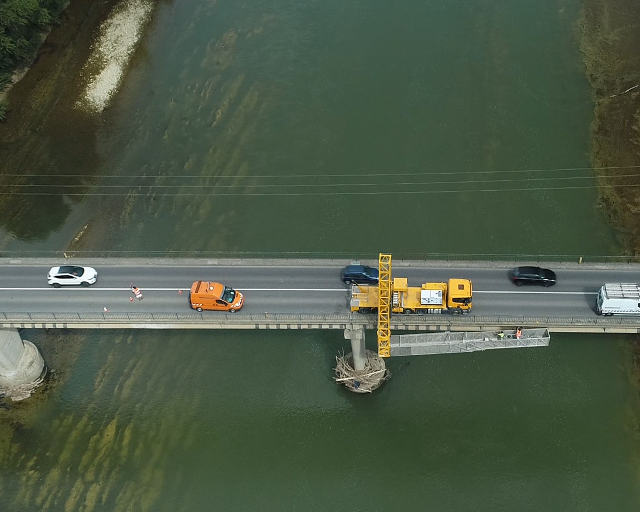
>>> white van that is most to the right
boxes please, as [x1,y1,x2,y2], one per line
[594,277,640,315]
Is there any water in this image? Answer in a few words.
Yes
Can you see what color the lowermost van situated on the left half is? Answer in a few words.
orange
